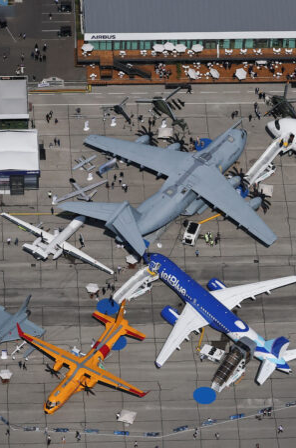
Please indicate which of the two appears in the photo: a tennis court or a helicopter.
helicopter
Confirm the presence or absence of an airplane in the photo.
Yes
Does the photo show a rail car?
No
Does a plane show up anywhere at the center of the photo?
Yes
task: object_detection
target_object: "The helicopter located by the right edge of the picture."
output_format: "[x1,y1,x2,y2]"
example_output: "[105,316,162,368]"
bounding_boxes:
[258,83,296,120]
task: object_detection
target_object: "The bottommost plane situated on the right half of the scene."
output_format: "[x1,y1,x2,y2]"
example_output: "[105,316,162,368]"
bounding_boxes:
[142,256,296,385]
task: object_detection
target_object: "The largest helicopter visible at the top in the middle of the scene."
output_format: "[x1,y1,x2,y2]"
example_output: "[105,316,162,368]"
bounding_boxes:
[134,87,196,136]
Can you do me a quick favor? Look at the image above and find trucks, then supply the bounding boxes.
[181,220,202,249]
[196,340,225,364]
